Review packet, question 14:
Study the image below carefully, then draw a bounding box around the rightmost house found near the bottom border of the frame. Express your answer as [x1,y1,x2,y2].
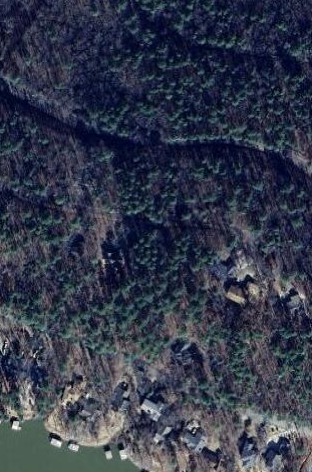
[260,440,293,467]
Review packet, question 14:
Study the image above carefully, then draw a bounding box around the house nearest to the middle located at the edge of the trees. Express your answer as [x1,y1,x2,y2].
[104,244,123,265]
